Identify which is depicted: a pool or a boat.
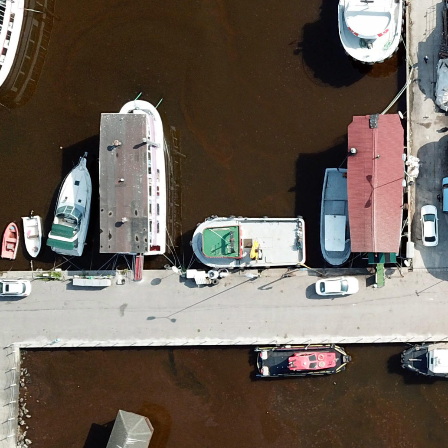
boat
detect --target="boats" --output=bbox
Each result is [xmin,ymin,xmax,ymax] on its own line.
[348,79,410,271]
[181,215,322,273]
[97,92,180,270]
[257,337,351,375]
[399,338,448,377]
[1,222,20,271]
[0,0,24,89]
[320,156,351,265]
[23,213,42,270]
[48,151,99,270]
